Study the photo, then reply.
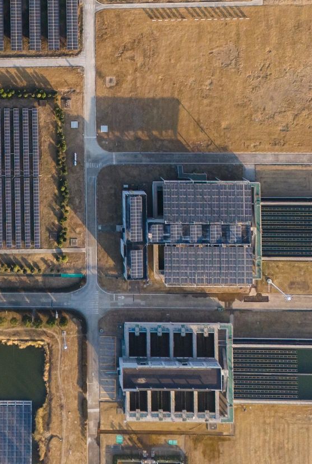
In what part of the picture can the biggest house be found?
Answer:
bottom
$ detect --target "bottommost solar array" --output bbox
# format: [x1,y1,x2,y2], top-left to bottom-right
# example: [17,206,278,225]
[131,250,143,278]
